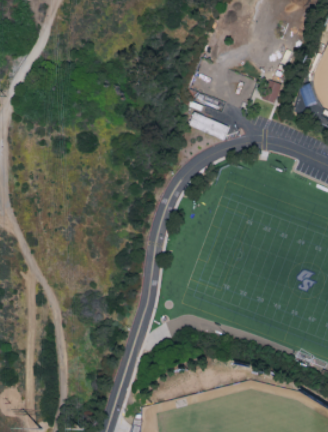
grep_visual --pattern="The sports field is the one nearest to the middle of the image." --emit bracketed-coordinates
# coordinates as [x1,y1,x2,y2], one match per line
[154,154,328,361]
